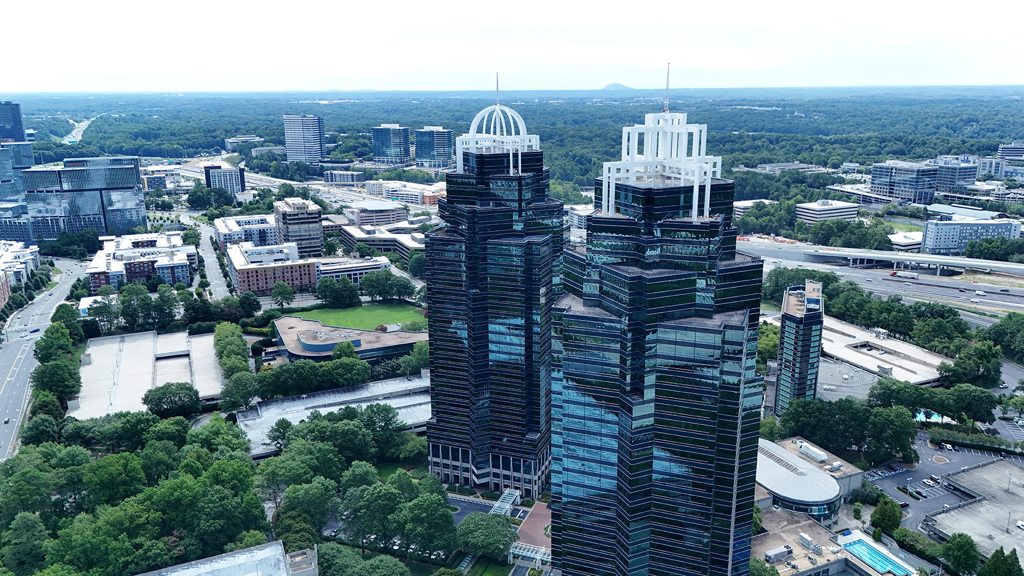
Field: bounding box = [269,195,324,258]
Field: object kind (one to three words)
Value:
building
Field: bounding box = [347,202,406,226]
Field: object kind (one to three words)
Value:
building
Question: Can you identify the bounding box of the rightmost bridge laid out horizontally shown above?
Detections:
[736,241,1024,281]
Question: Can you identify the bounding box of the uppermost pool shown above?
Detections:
[917,411,943,423]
